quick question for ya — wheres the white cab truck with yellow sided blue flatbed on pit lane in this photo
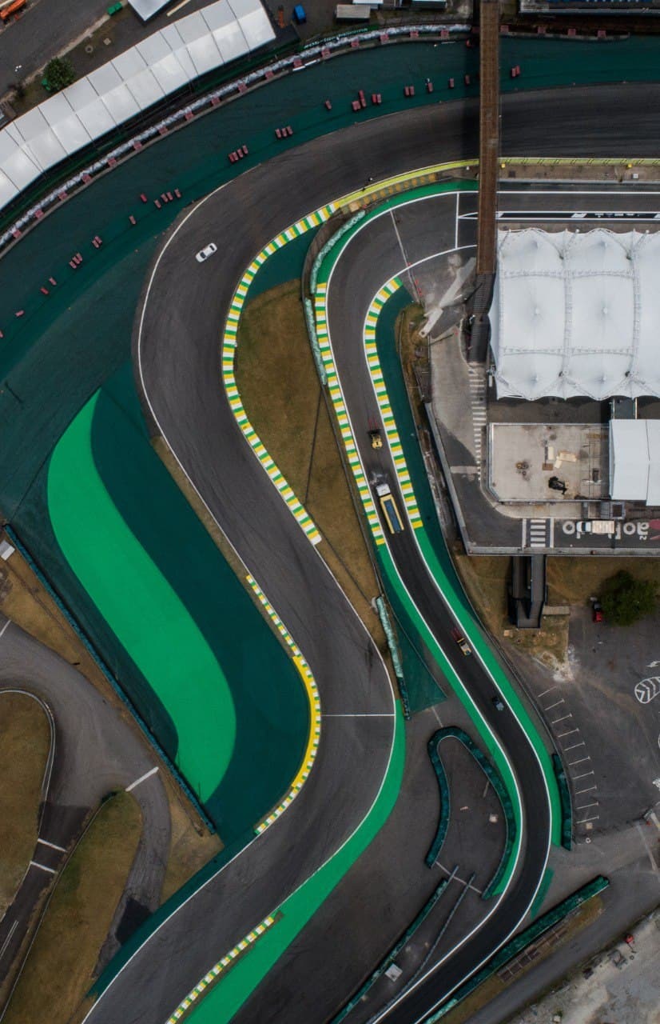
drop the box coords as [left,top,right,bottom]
[378,483,403,533]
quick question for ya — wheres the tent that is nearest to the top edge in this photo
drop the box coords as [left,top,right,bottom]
[128,0,175,26]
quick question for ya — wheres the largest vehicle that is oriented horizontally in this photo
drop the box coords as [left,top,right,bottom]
[578,521,619,534]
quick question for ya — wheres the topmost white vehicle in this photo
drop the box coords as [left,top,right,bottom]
[196,244,219,263]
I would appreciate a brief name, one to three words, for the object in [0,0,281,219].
tent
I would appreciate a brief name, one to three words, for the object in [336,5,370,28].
building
